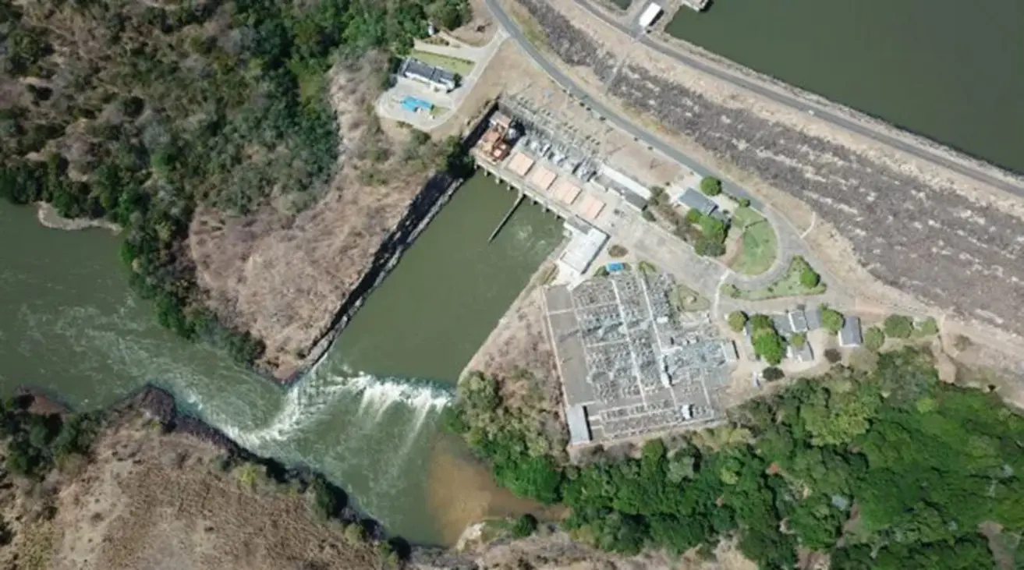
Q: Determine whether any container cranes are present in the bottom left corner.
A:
No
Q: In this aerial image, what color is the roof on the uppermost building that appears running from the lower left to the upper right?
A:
white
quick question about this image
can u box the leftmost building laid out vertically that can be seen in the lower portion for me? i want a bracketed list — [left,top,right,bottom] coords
[567,405,590,445]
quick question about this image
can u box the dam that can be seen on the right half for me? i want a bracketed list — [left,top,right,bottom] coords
[524,0,1024,338]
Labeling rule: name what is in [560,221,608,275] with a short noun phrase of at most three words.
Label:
building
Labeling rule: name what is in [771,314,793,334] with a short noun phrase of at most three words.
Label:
house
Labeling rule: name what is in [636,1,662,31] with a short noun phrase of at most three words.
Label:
building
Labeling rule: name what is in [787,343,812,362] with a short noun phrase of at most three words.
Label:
house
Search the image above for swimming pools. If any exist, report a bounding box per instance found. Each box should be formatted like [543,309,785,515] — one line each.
[400,96,436,113]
